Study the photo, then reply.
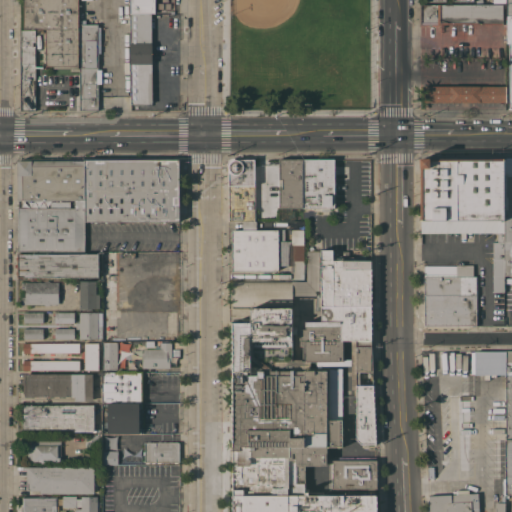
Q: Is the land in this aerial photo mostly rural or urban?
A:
urban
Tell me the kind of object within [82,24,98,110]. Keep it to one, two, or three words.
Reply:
building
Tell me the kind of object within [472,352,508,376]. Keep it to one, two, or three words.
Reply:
shed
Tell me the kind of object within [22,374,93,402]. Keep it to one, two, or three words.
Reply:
building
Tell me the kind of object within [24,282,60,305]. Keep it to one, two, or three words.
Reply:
house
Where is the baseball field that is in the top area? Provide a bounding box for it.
[232,0,371,109]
